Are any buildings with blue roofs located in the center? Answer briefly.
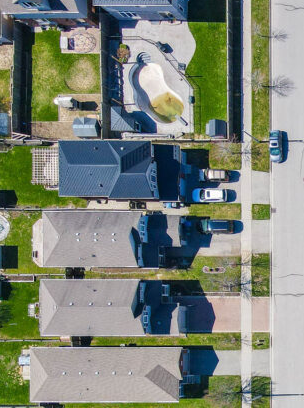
Yes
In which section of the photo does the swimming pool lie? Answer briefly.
top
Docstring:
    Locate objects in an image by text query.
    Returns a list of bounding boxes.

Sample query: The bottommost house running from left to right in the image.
[30,347,201,402]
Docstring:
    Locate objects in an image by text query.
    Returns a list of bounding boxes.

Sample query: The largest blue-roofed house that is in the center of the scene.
[57,140,189,201]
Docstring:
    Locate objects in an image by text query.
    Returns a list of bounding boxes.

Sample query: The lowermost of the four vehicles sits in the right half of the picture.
[203,218,236,234]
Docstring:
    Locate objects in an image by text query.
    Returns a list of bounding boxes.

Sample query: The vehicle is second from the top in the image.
[205,168,233,183]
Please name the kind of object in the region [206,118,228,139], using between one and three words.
shed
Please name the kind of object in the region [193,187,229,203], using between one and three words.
car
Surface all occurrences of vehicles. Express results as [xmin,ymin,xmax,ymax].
[269,130,284,163]
[205,168,233,183]
[193,187,229,203]
[203,218,236,234]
